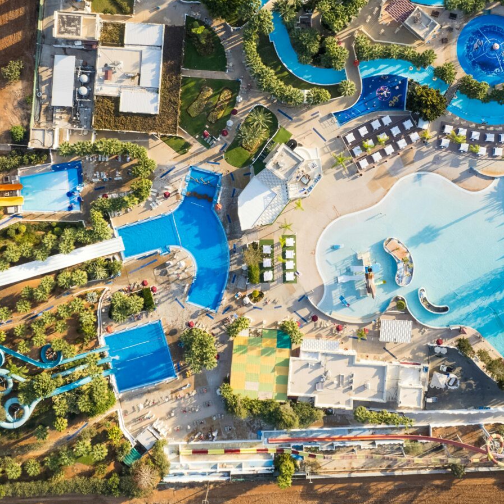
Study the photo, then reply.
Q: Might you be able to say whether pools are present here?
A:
Yes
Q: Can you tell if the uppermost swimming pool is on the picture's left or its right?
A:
right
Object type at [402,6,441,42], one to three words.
shed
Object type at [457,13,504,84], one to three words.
swimming pool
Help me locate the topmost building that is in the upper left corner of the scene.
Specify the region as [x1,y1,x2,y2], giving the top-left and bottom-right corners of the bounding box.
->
[52,12,102,42]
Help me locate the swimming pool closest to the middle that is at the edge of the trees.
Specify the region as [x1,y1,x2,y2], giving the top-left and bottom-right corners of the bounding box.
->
[116,168,230,312]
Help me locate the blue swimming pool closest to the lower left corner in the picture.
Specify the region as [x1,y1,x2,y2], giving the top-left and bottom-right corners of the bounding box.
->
[102,321,177,393]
